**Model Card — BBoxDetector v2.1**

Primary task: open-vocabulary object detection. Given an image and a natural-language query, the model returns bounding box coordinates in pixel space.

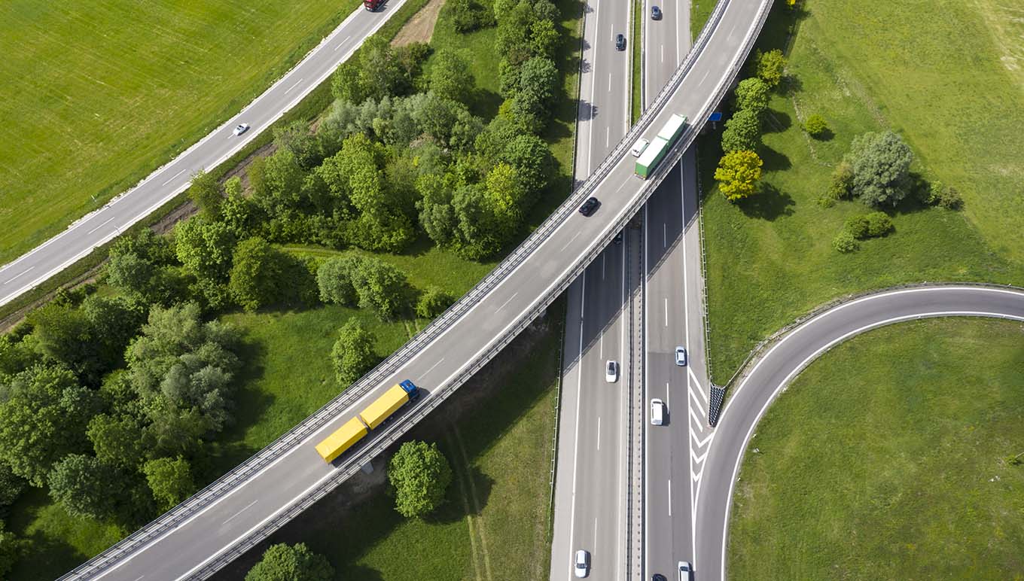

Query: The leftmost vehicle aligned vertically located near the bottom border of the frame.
[574,548,588,579]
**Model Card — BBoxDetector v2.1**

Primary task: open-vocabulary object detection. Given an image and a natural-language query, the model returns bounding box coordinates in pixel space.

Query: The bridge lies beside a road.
[61,0,775,581]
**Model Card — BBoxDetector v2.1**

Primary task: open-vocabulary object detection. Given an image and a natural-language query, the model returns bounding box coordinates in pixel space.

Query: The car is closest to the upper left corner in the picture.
[231,123,249,137]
